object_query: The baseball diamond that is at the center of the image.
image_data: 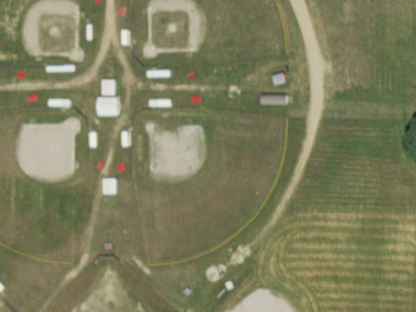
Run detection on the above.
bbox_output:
[133,110,288,264]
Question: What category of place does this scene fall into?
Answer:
sports ground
